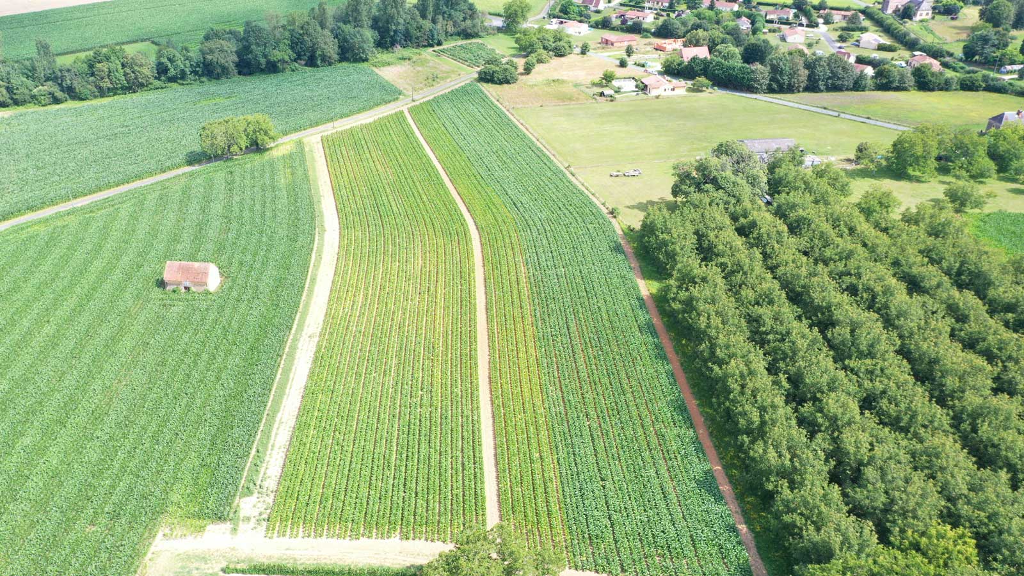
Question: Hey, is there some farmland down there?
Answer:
Yes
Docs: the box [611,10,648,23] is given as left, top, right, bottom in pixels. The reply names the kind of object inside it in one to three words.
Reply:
house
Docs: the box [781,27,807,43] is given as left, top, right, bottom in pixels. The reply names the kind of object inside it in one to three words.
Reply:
house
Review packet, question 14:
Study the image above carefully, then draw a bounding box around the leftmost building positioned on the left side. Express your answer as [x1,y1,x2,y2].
[161,261,222,292]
